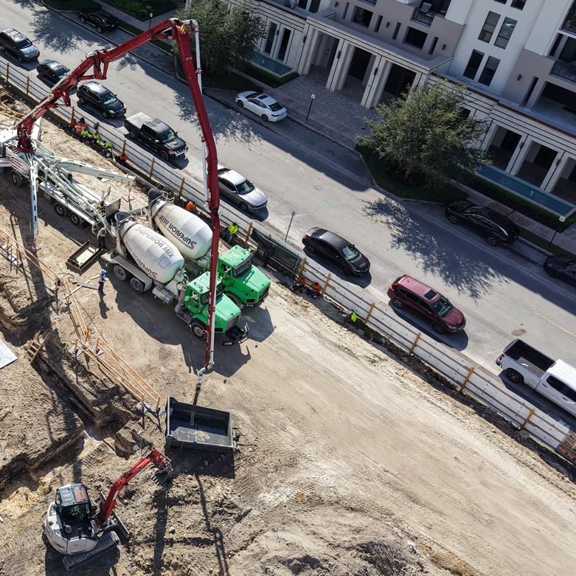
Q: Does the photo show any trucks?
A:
Yes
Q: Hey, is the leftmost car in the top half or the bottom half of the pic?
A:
top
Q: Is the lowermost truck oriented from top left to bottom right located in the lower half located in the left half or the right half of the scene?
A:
right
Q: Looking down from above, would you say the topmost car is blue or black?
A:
black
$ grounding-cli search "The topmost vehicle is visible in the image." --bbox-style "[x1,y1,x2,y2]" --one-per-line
[82,9,127,36]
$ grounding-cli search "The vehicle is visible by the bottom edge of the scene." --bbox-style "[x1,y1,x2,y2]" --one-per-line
[41,430,158,571]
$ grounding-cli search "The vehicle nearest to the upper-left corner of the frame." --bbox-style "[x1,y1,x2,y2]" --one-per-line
[0,32,41,66]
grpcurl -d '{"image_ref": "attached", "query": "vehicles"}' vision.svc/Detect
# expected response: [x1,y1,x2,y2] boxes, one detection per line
[387,280,477,347]
[32,59,69,88]
[300,229,378,287]
[234,92,294,127]
[445,203,529,253]
[76,83,128,123]
[41,430,158,571]
[210,173,278,221]
[82,9,127,36]
[126,118,194,166]
[499,344,576,424]
[98,205,257,362]
[0,32,41,66]
[0,15,225,427]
